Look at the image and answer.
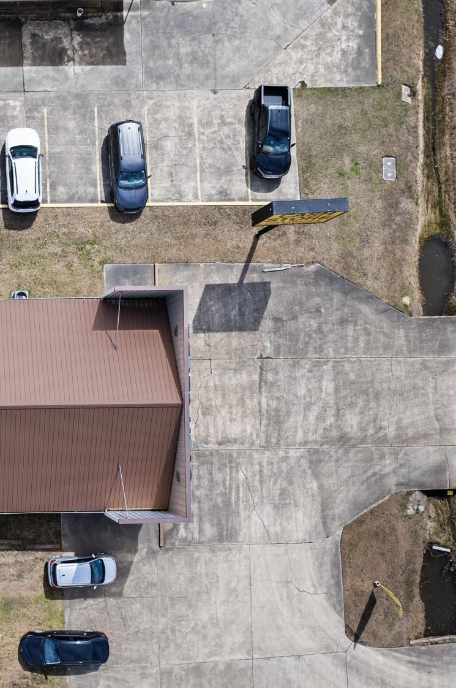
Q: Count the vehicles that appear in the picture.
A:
5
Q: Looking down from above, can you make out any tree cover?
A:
No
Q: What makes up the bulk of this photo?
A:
paved ground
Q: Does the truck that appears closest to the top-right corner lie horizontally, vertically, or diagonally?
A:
vertically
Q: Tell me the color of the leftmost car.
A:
white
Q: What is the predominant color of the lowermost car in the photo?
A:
black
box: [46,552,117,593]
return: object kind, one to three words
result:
car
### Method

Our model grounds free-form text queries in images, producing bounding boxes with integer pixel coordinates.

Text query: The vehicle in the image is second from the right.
[107,120,153,214]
